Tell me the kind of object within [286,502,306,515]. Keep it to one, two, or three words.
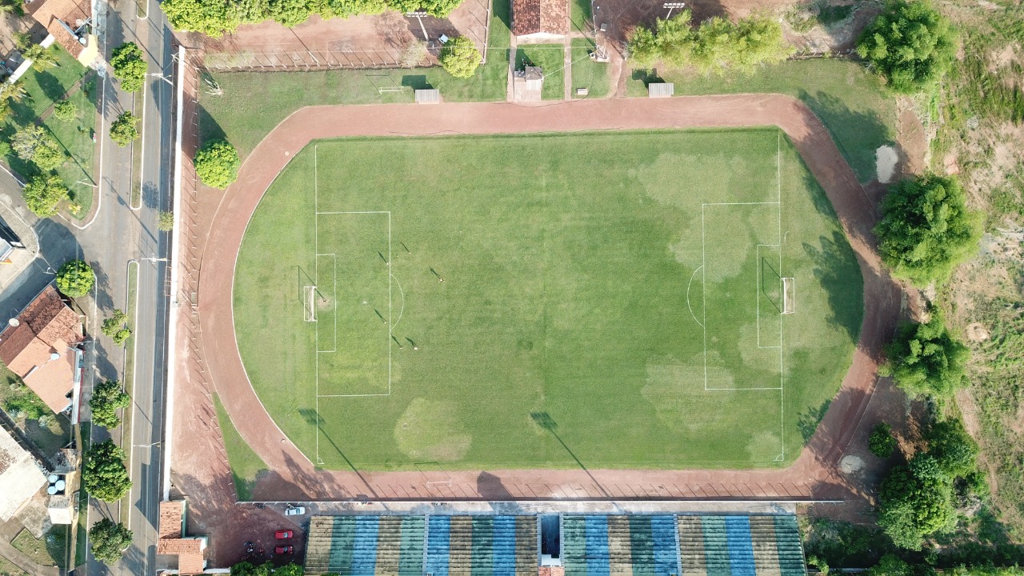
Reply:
vehicle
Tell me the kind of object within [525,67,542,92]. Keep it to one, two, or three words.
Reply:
shed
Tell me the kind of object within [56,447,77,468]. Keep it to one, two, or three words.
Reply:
shed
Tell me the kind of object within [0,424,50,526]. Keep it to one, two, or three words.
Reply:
house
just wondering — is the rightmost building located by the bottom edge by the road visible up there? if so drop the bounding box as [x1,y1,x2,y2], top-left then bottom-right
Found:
[157,498,209,574]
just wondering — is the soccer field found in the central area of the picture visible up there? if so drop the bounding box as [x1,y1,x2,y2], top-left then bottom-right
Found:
[232,126,863,471]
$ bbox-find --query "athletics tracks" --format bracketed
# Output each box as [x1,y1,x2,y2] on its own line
[198,93,901,502]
